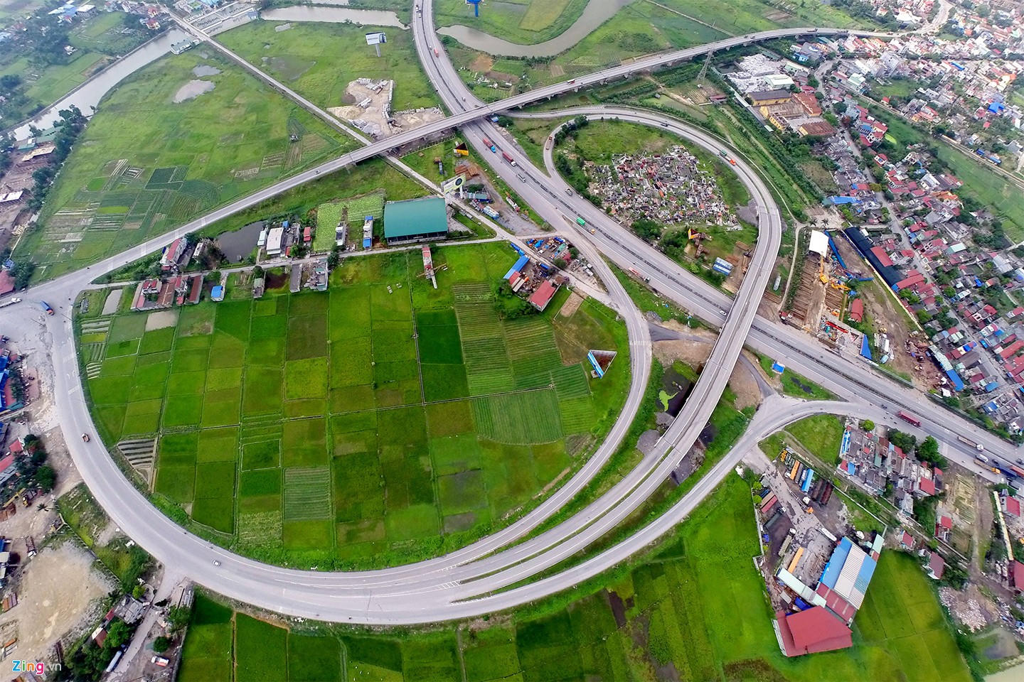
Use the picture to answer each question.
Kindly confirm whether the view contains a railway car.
No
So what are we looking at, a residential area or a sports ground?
residential area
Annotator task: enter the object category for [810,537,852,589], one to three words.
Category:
building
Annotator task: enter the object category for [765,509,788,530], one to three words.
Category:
truck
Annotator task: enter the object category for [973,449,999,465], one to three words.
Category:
vehicle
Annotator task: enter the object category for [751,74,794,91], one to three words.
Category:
house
